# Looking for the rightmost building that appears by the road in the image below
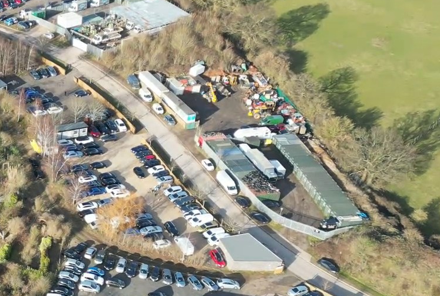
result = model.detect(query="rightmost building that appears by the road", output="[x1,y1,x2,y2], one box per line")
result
[218,233,283,273]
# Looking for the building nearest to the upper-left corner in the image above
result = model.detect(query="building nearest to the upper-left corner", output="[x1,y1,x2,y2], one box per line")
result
[57,11,82,30]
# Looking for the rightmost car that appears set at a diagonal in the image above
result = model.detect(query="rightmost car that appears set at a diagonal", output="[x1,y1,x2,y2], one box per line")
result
[316,256,343,276]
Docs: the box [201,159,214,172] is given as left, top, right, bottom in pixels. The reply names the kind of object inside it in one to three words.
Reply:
vehicle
